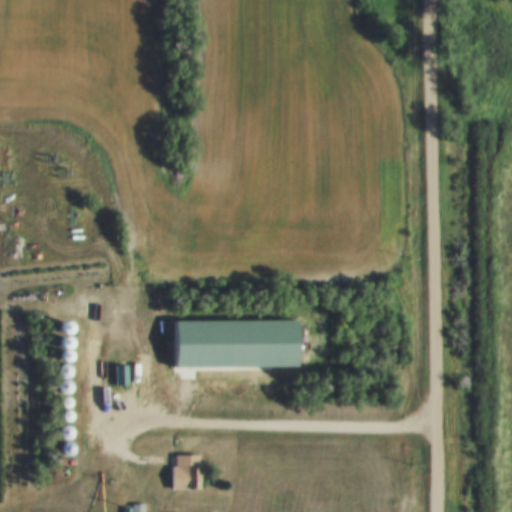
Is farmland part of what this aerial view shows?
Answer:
Yes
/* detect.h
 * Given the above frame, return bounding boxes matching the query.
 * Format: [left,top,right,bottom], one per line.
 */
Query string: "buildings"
[174,318,304,368]
[126,503,147,512]
[172,454,204,490]
[114,362,131,387]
